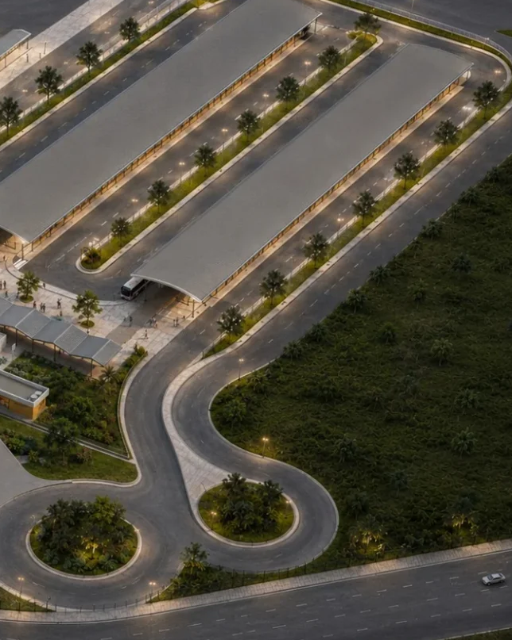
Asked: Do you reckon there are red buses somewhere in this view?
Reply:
No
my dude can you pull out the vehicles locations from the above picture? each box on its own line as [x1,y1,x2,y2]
[124,277,163,305]
[477,570,508,585]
